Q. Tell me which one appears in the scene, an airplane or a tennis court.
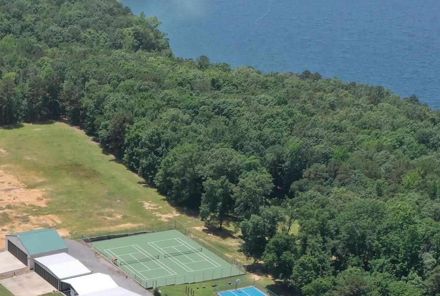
tennis court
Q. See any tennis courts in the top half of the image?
No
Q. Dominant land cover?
trees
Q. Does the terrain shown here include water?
Yes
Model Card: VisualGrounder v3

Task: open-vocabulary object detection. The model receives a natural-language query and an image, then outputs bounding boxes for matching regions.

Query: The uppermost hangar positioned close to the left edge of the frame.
[5,229,70,270]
